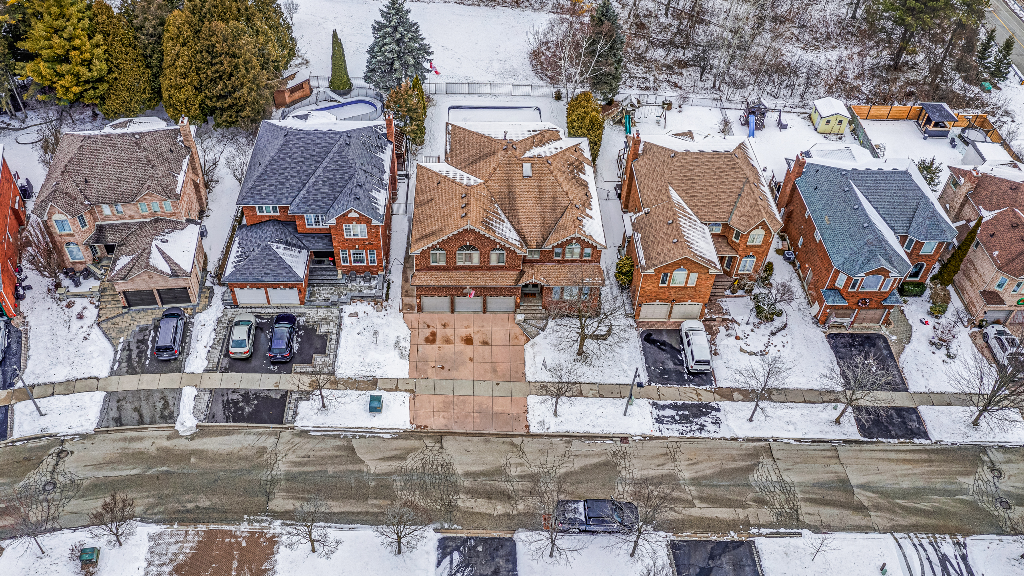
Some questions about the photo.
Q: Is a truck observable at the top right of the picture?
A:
No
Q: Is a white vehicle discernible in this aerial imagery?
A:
Yes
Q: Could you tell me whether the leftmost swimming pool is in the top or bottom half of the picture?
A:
top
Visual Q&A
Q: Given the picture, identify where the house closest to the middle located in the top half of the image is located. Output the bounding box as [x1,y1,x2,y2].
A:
[406,121,608,327]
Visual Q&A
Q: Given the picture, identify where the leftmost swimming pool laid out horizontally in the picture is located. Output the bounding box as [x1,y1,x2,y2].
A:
[296,92,387,120]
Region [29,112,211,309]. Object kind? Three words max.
house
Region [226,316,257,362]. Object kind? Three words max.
car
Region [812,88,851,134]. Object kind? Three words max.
shed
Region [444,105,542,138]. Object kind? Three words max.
swimming pool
